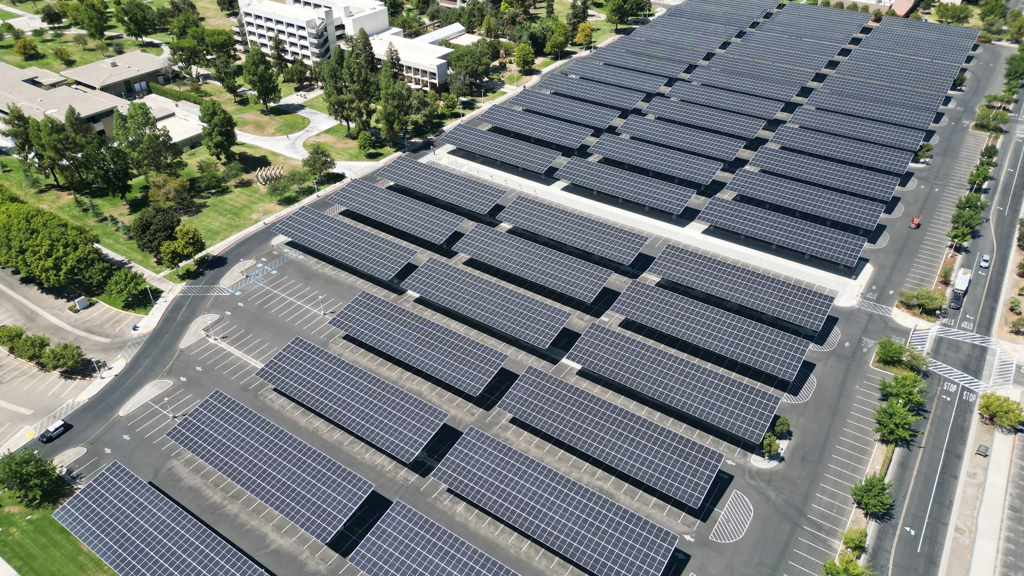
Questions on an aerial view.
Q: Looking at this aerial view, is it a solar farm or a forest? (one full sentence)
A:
This image shows a solar farm.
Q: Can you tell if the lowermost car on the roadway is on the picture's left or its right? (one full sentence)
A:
The lowermost car on the roadway is on the left side of the image.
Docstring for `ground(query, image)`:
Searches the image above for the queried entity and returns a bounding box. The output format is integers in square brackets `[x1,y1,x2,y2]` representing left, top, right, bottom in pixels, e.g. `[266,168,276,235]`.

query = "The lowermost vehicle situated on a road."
[38,415,73,441]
